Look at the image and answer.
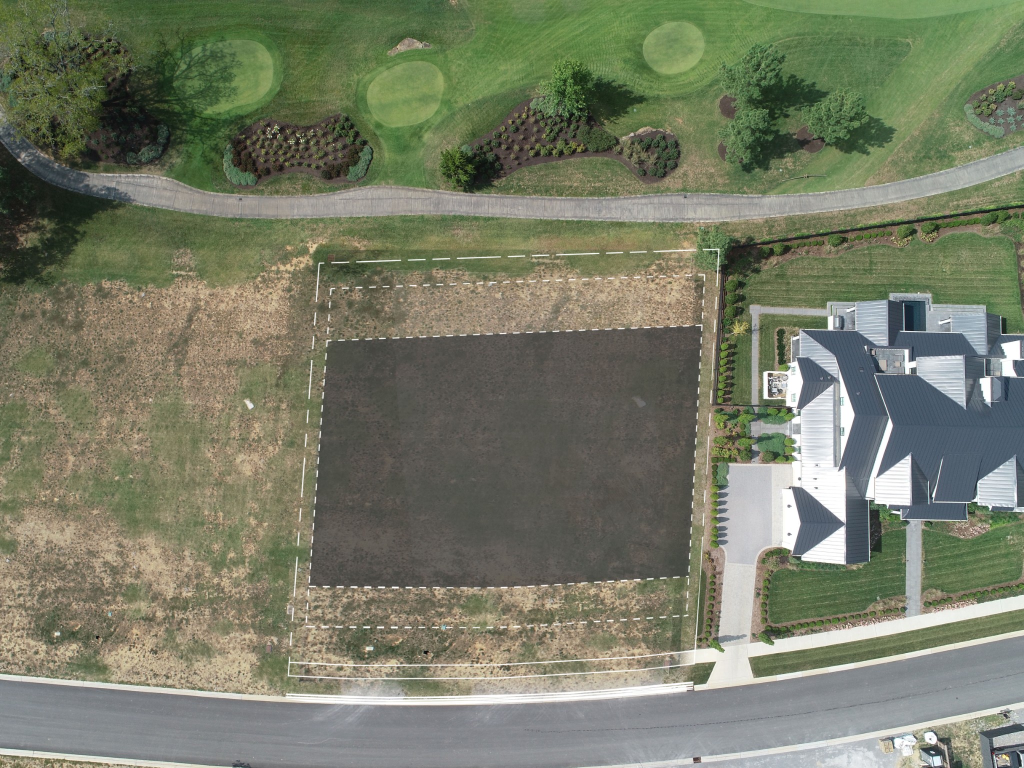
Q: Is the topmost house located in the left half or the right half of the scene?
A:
right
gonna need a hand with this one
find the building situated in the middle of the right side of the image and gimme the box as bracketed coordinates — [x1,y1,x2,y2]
[781,299,1024,566]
